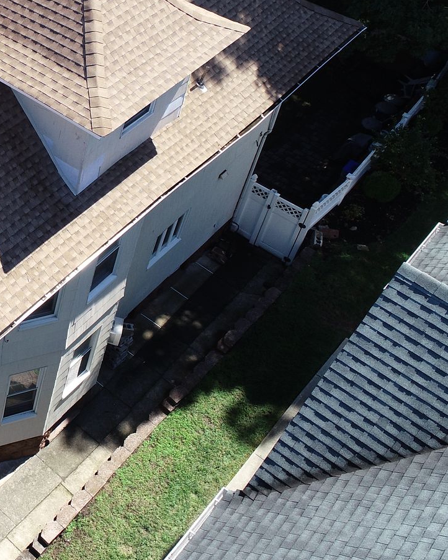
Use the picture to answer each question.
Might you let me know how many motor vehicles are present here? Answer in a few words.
none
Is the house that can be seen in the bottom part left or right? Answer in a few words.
right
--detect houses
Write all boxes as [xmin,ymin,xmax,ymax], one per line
[0,0,371,465]
[181,229,448,560]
